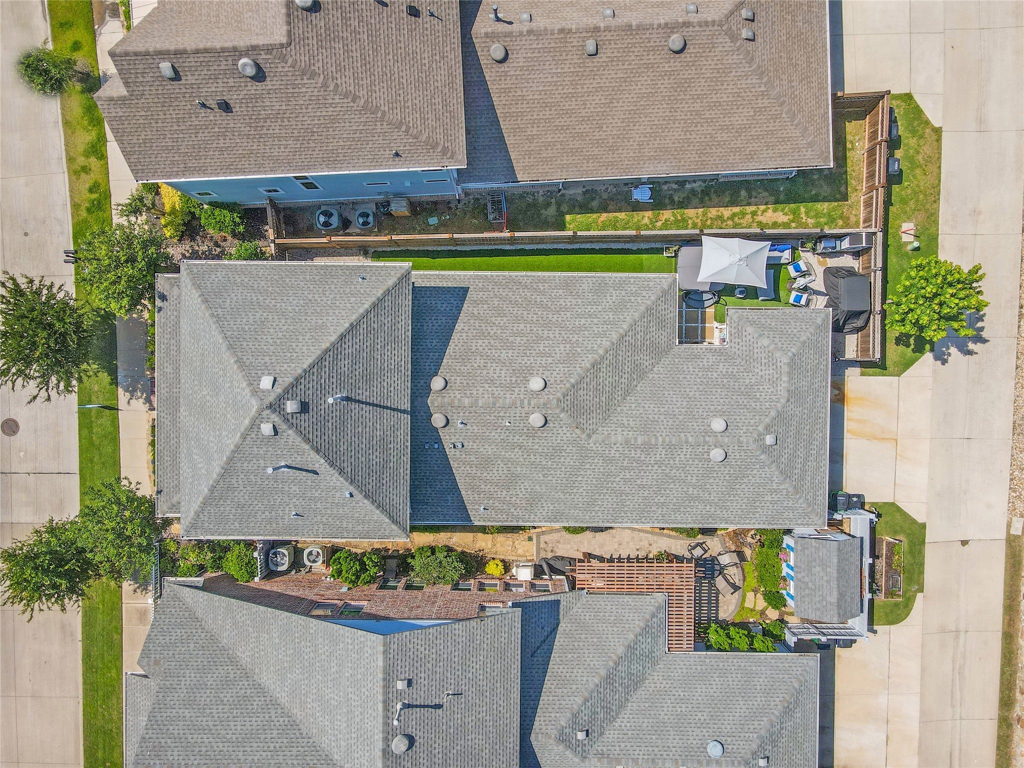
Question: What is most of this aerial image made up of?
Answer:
buildings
